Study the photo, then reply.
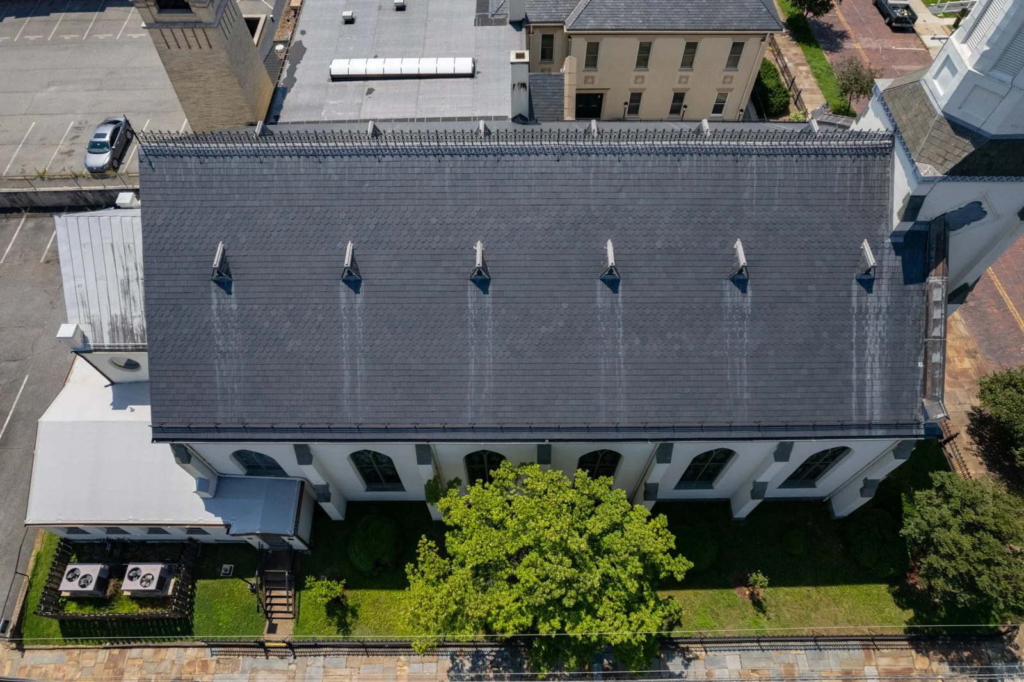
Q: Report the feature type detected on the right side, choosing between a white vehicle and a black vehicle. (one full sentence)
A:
Looking on the right side, you will find a black vehicle.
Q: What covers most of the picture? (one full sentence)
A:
Most of the picture is covered by buildings.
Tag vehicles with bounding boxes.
[81,115,129,171]
[869,0,919,31]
